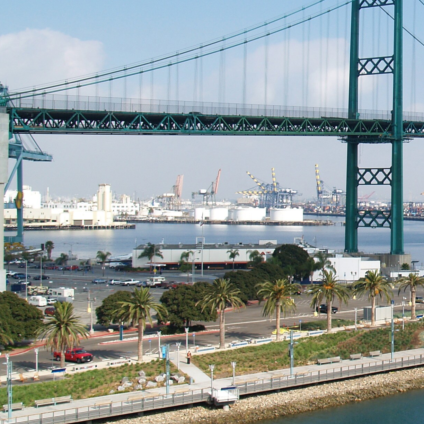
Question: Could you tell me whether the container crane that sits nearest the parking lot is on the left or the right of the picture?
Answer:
left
